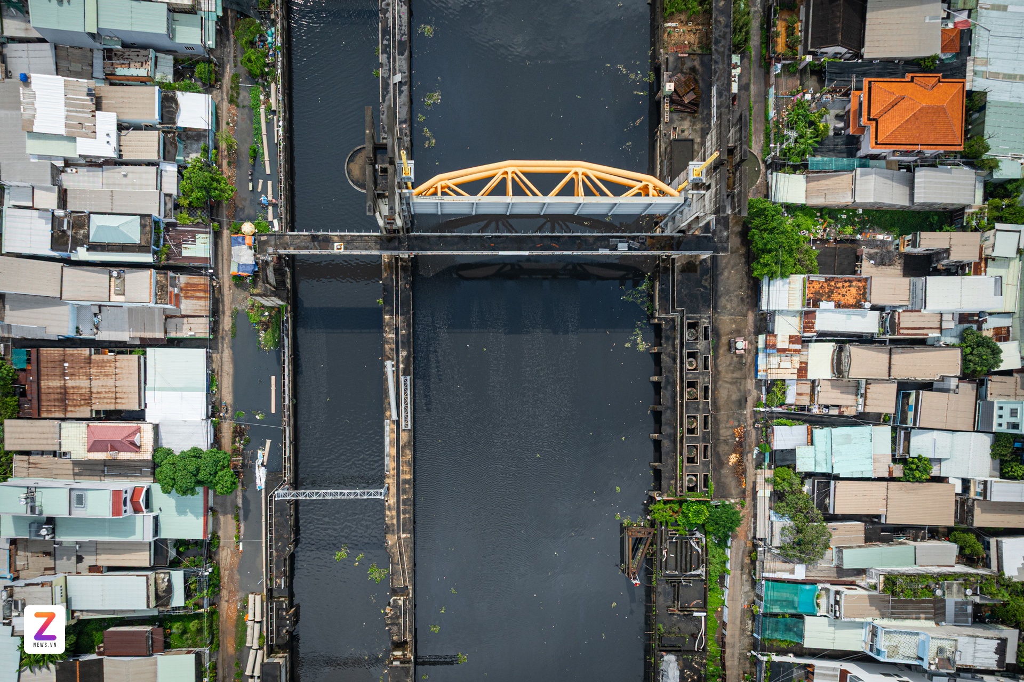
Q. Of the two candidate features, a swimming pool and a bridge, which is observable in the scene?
bridge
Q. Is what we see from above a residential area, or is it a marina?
residential area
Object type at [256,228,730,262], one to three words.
bridge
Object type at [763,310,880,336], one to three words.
house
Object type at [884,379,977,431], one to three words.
house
